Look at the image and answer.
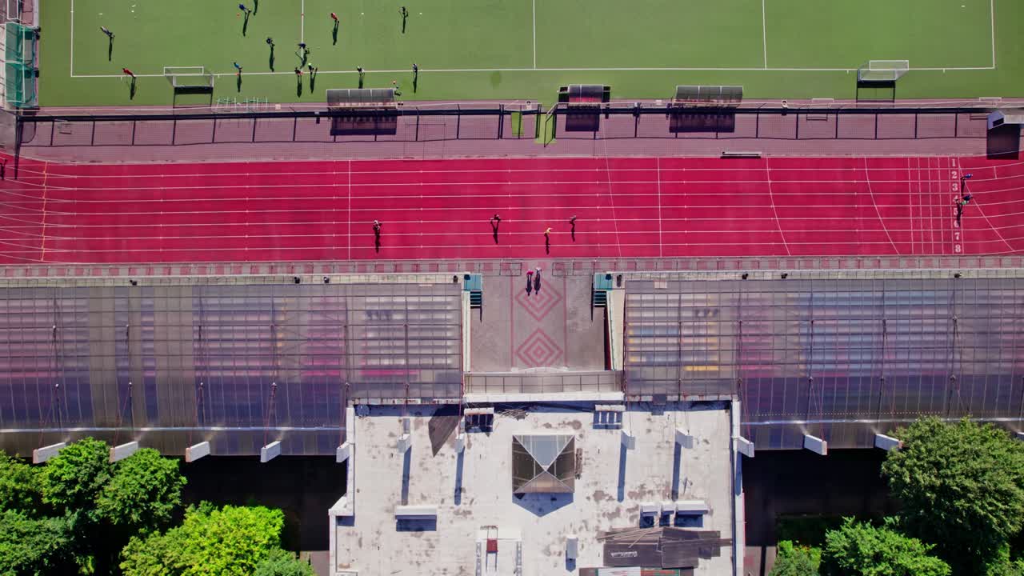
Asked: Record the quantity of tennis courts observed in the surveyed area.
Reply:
0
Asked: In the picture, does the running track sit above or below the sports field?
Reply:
below it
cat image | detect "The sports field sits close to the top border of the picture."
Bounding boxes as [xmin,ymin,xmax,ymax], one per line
[34,0,1024,107]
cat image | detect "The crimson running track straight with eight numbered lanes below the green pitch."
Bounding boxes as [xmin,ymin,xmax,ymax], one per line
[0,144,1024,265]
